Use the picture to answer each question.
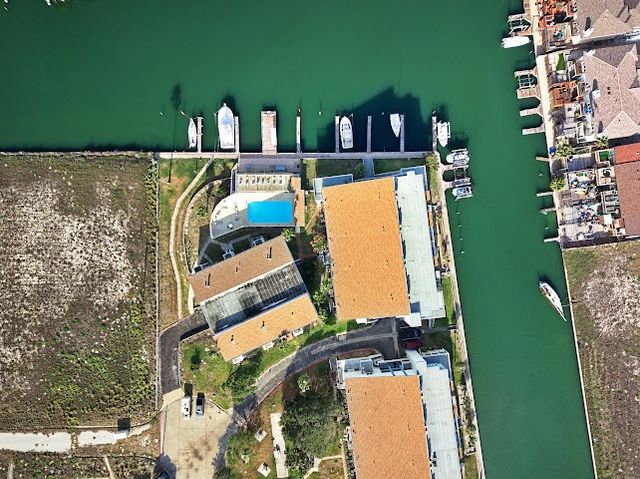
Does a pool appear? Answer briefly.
Yes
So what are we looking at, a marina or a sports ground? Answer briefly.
marina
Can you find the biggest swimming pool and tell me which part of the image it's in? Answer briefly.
center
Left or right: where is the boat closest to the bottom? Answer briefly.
right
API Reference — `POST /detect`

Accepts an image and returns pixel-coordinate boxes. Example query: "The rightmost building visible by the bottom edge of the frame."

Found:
[336,343,467,479]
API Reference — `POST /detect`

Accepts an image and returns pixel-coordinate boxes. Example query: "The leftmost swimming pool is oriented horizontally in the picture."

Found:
[209,192,295,239]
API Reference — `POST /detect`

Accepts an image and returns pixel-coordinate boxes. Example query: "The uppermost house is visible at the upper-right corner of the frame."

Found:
[563,0,640,50]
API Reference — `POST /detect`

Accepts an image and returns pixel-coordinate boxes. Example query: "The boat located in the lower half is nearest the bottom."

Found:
[536,281,575,318]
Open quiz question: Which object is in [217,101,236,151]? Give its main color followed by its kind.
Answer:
white boat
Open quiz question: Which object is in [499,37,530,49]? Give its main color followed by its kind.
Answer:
white boat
